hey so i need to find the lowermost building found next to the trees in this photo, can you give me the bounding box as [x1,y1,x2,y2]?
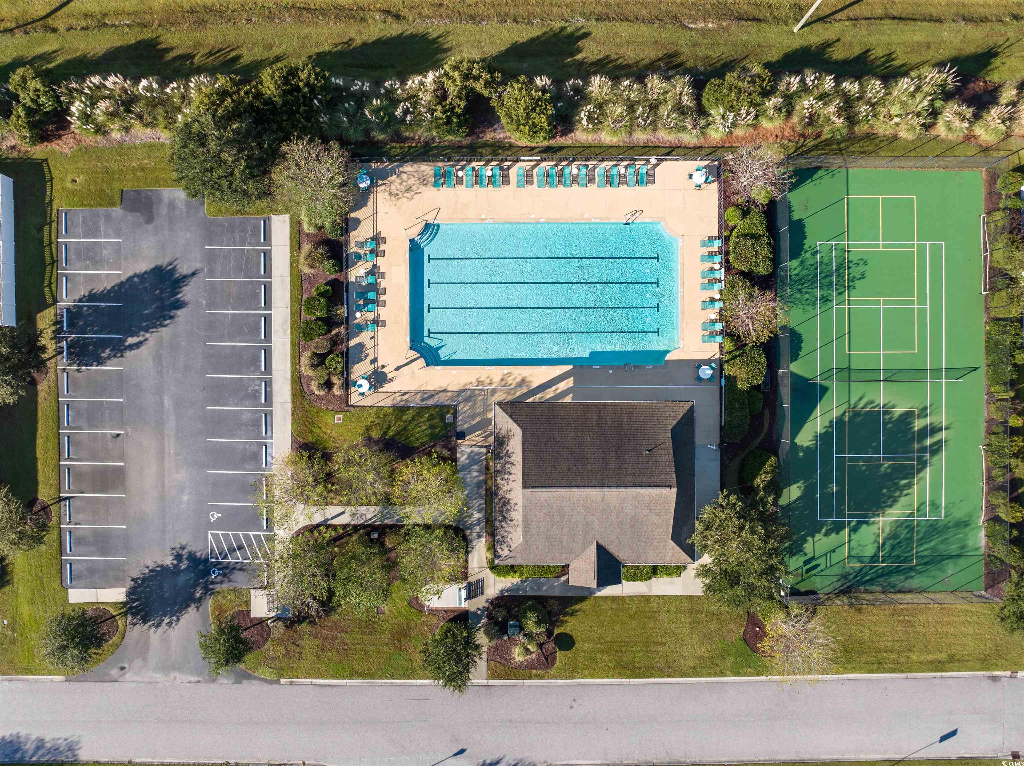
[494,401,696,590]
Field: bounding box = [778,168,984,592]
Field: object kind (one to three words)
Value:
tennis court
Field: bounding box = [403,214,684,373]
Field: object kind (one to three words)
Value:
swimming pool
